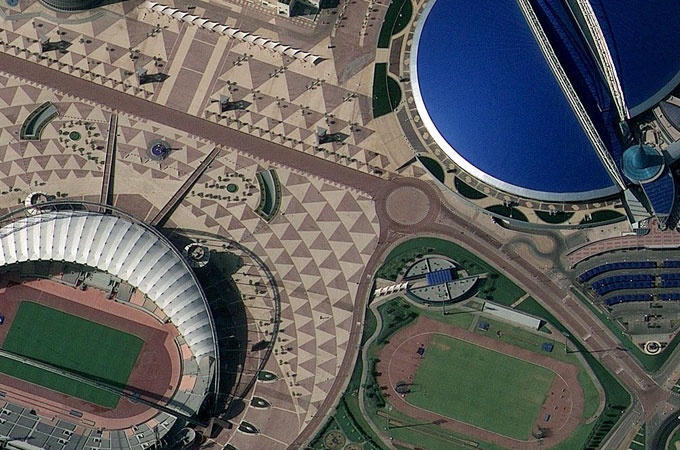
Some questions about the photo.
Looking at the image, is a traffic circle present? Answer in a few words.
Yes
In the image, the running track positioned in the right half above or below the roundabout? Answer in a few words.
below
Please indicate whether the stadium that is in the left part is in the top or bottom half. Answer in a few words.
bottom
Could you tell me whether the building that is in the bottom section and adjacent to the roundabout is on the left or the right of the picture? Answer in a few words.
right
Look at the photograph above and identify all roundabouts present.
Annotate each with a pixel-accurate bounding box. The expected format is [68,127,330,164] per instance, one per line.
[375,171,442,238]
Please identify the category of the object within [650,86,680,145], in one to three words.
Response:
building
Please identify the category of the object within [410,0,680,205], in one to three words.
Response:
building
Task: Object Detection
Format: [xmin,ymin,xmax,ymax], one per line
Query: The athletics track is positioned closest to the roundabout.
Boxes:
[377,317,586,450]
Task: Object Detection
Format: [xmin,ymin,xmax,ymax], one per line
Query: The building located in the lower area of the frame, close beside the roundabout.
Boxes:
[403,258,482,309]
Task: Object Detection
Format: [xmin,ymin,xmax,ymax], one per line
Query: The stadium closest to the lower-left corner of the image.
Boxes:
[0,199,228,450]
